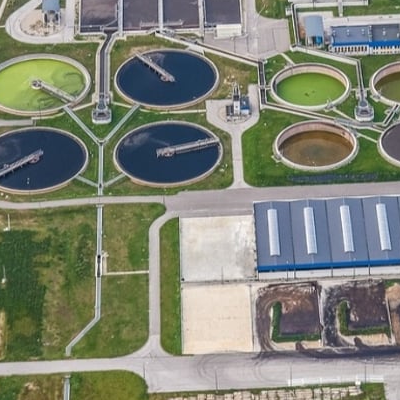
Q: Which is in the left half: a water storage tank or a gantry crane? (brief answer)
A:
water storage tank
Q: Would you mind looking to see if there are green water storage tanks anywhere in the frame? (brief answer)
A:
Yes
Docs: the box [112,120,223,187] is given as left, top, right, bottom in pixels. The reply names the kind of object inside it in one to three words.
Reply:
water tank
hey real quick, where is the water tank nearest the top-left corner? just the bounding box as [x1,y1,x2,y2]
[0,51,91,115]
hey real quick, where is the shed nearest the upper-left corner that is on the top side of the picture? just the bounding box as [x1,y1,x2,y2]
[42,0,62,27]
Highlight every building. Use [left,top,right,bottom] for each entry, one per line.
[253,190,400,283]
[215,24,243,43]
[329,23,400,55]
[217,88,257,121]
[304,16,323,48]
[42,0,62,27]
